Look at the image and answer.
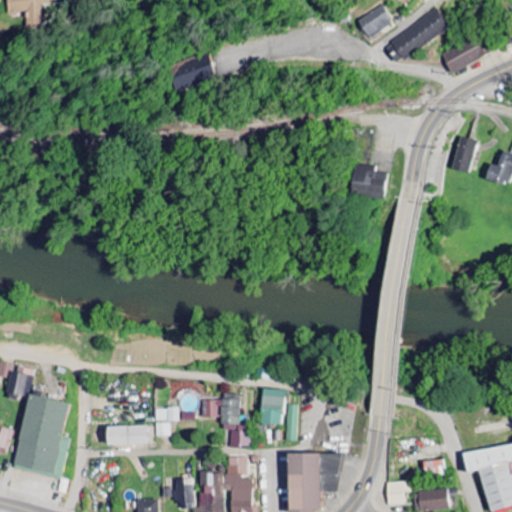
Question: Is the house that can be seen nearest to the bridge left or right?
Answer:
right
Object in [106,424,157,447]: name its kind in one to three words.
building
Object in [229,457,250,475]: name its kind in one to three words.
house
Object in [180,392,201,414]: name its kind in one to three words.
swimming pool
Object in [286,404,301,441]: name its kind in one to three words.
barn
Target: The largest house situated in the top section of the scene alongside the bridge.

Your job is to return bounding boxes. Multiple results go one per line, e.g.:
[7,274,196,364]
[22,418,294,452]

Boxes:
[351,164,392,199]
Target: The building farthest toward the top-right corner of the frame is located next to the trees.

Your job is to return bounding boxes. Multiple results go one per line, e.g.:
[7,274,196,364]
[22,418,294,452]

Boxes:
[444,42,489,74]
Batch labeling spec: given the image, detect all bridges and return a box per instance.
[370,189,424,412]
